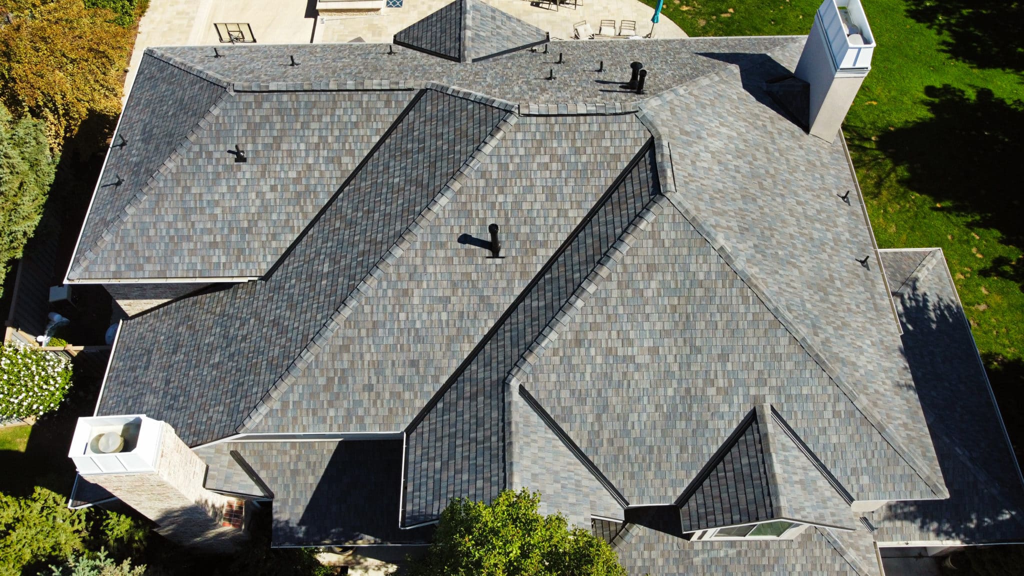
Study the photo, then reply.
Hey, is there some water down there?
No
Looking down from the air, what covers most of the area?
buildings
